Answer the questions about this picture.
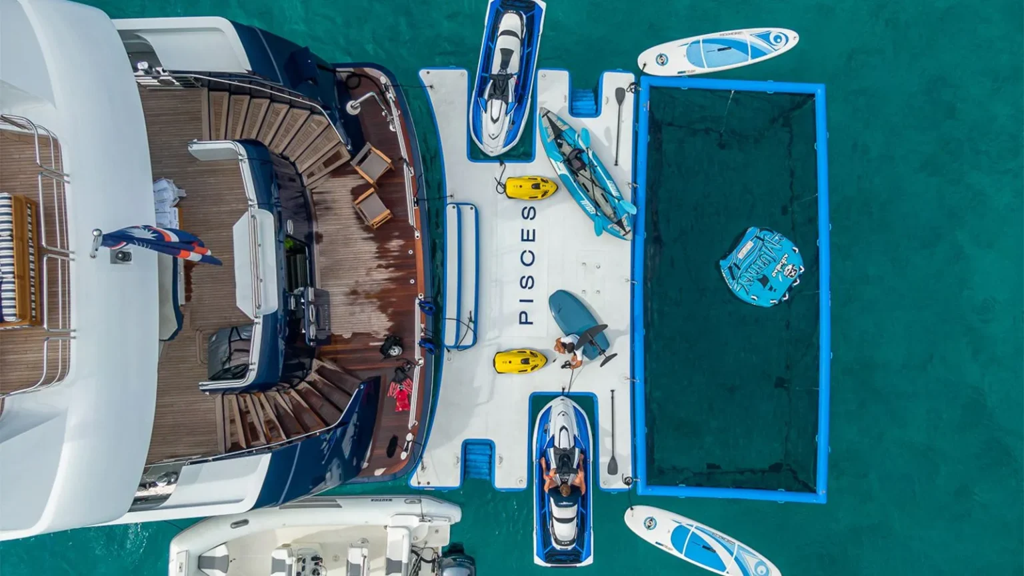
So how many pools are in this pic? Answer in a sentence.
The count comes to 1 pool.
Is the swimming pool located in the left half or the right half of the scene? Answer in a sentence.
The swimming pool is on the right side of the image.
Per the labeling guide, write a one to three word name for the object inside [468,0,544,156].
boat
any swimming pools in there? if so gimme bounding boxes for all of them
[634,74,832,504]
